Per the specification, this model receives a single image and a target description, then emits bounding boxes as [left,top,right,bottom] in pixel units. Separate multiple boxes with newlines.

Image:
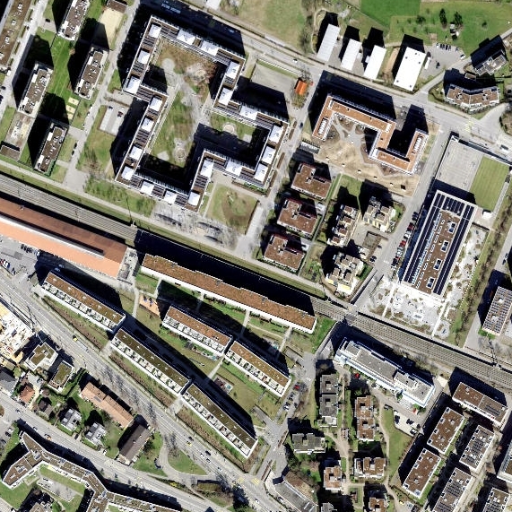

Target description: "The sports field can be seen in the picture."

[471,157,509,210]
